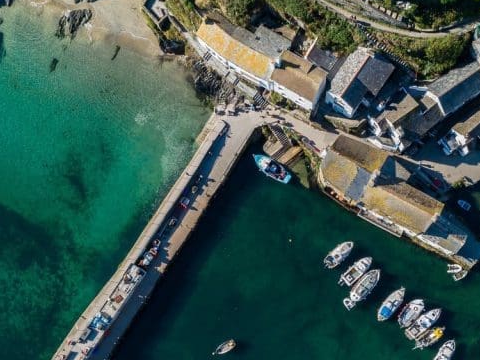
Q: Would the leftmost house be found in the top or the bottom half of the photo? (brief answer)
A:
top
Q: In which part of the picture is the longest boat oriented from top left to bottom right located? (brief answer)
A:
center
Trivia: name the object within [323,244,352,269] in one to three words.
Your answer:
boat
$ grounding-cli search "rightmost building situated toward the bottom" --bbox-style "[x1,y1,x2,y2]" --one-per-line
[423,210,480,264]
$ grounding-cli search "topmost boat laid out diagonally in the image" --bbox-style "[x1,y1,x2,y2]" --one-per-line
[254,154,293,186]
